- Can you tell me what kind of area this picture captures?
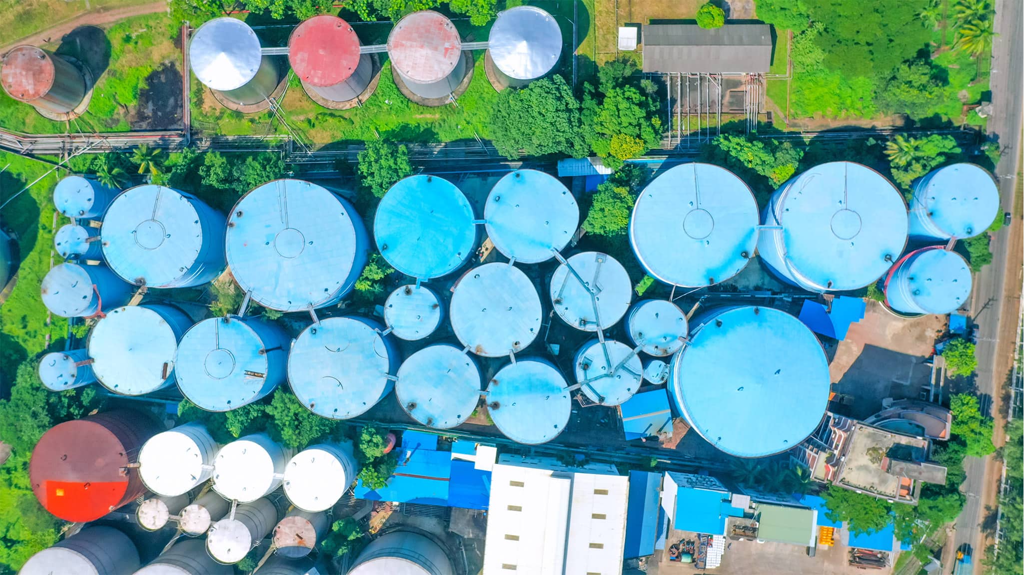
industrial area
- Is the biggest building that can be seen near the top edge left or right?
right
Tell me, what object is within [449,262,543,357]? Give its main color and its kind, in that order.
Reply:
blue storage tank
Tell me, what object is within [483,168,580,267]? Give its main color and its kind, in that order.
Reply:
blue storage tank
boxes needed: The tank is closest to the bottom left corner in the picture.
[16,522,140,575]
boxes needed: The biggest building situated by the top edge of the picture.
[640,24,773,79]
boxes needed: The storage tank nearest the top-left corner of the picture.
[0,45,95,121]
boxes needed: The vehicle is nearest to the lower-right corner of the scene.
[959,553,981,575]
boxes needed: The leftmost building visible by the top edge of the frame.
[618,27,637,54]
